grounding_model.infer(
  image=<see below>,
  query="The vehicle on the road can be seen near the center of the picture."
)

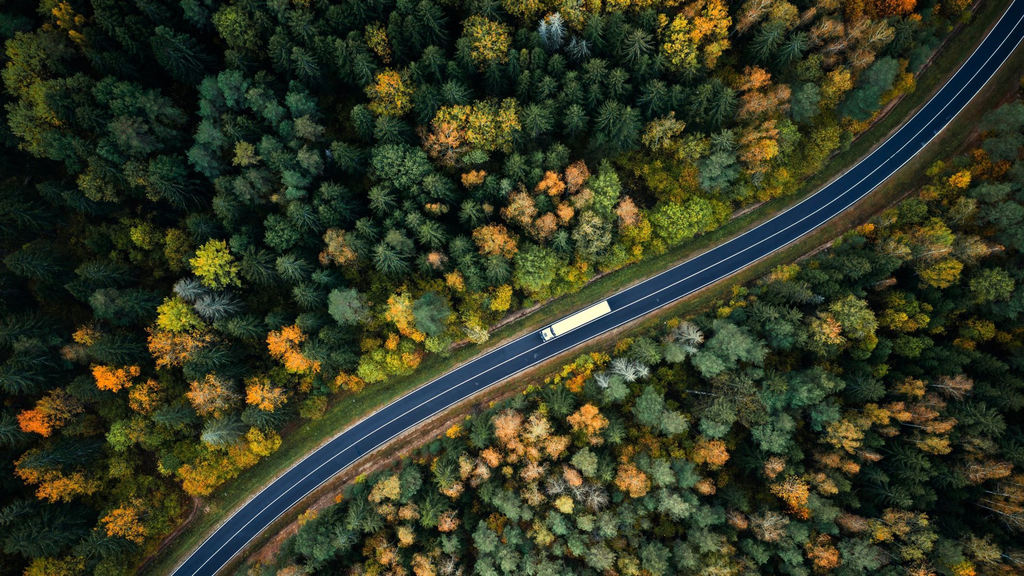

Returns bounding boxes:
[541,301,611,341]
